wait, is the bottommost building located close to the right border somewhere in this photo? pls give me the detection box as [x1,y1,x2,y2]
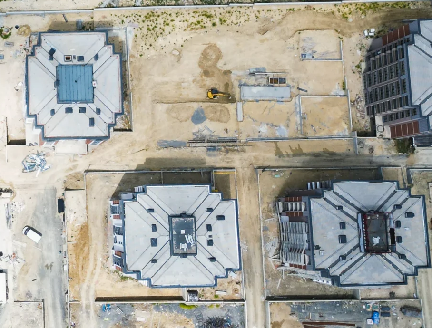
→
[281,181,432,285]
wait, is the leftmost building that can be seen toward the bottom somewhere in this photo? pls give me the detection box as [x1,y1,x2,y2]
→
[114,185,240,288]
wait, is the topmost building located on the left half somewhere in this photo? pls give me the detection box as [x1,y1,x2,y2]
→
[25,31,124,154]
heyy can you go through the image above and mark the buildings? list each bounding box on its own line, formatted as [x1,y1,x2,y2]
[361,19,432,146]
[281,181,432,285]
[25,31,124,154]
[114,185,240,288]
